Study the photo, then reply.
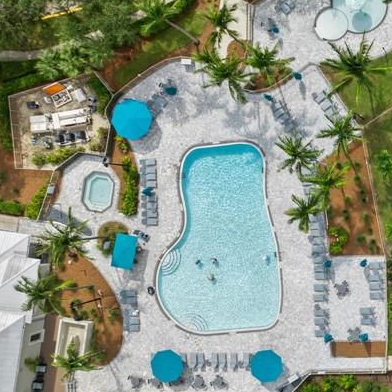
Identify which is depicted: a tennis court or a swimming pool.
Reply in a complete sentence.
This aerial view contains a swimming pool.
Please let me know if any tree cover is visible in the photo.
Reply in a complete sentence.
Yes, there is tree cover in the image.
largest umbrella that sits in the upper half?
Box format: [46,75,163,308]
[112,99,152,139]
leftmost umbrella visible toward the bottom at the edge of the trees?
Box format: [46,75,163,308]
[105,236,140,276]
